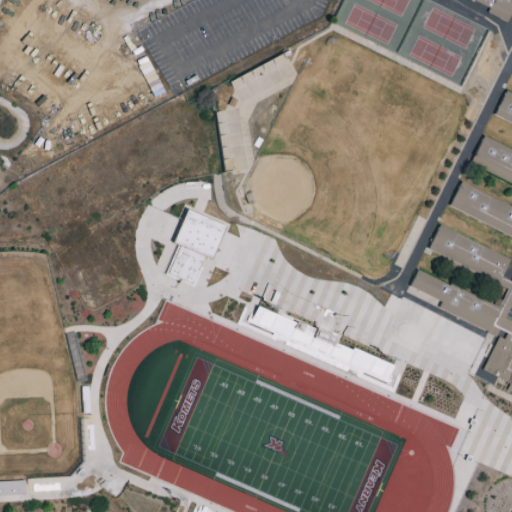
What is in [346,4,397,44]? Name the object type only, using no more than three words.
tennis court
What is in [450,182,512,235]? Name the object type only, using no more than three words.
building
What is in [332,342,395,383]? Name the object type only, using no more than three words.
building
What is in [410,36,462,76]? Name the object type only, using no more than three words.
tennis court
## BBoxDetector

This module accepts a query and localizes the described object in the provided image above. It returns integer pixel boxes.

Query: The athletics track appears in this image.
[103,302,458,512]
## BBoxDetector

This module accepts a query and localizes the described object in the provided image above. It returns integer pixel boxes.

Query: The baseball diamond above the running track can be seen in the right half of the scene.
[246,28,464,280]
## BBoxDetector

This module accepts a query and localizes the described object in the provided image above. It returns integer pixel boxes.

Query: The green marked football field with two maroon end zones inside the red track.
[126,346,406,512]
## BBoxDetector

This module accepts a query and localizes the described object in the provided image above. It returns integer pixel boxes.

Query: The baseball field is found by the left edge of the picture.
[0,252,82,479]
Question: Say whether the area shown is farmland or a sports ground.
sports ground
